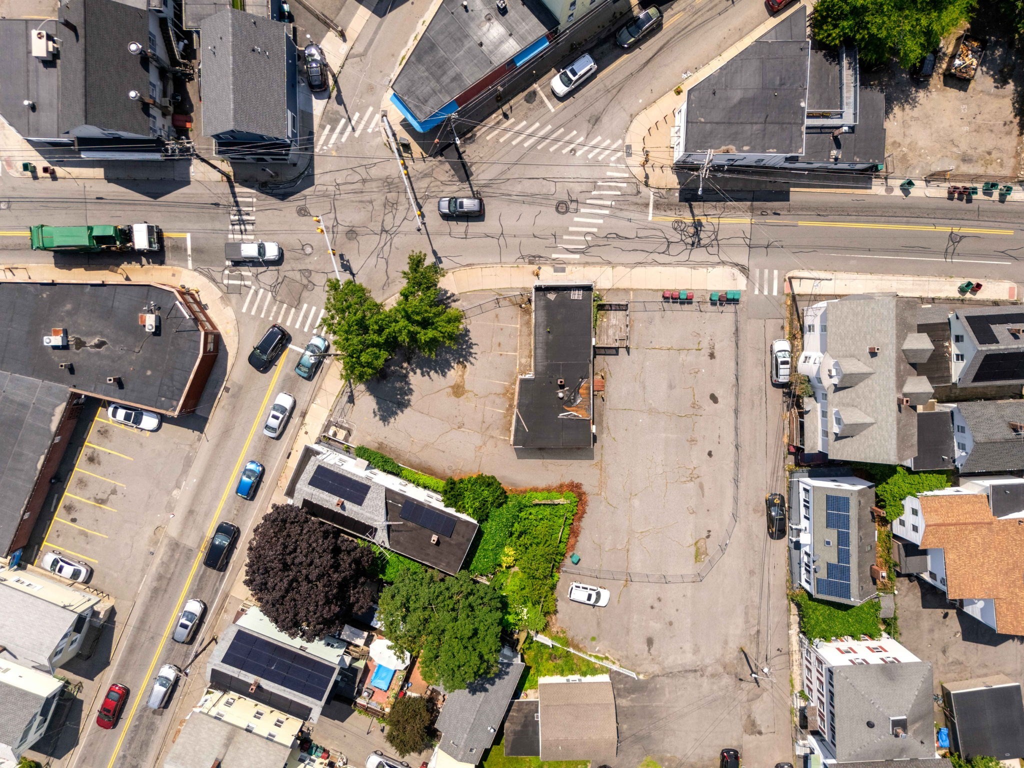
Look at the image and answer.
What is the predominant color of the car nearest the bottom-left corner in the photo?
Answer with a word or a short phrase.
red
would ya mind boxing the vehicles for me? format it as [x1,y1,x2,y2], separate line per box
[294,331,330,384]
[98,678,132,730]
[548,49,601,102]
[717,748,740,768]
[768,338,795,387]
[104,402,164,432]
[202,519,240,574]
[250,321,289,375]
[222,238,284,264]
[613,0,668,52]
[171,595,207,648]
[566,580,612,609]
[301,39,330,98]
[436,193,486,219]
[144,659,182,715]
[753,0,801,25]
[908,40,942,93]
[27,219,162,255]
[40,549,96,585]
[261,387,298,443]
[764,491,789,540]
[234,457,266,503]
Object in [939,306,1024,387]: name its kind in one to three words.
house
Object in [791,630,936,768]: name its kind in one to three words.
house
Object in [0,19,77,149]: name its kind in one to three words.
building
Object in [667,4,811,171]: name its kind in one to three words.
building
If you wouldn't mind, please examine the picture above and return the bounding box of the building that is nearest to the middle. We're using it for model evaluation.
[513,284,596,447]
